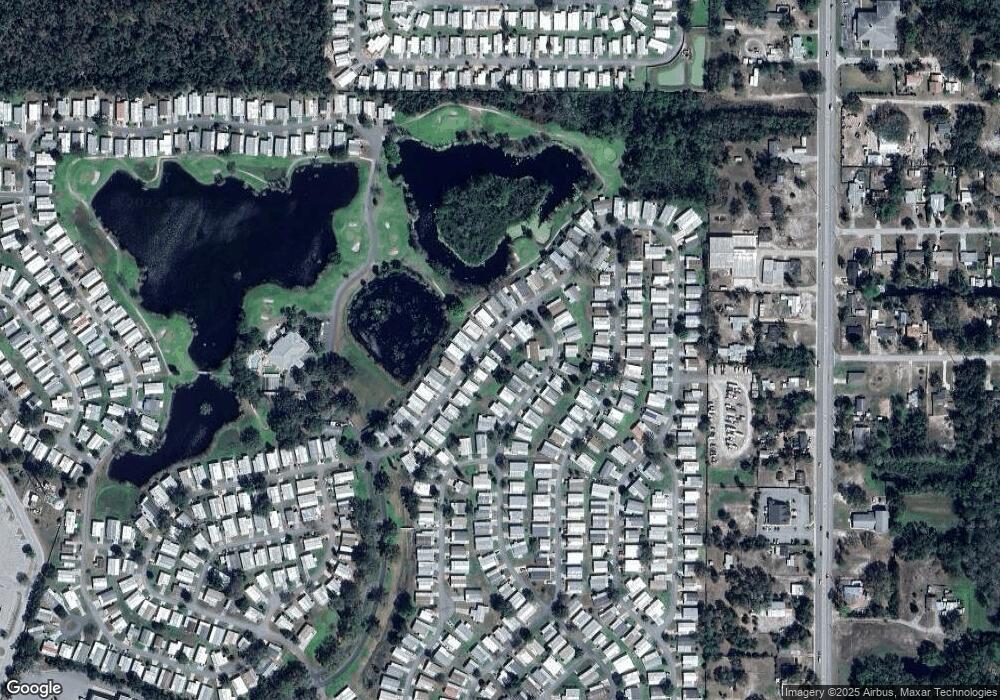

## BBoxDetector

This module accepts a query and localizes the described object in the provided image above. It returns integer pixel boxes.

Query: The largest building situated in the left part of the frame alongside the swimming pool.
[268,330,312,375]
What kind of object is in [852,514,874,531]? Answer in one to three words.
house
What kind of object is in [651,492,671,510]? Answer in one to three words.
house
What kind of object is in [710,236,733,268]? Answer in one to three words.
building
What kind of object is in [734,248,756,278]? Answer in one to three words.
building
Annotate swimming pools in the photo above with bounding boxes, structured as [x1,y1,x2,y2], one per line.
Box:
[247,350,268,371]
